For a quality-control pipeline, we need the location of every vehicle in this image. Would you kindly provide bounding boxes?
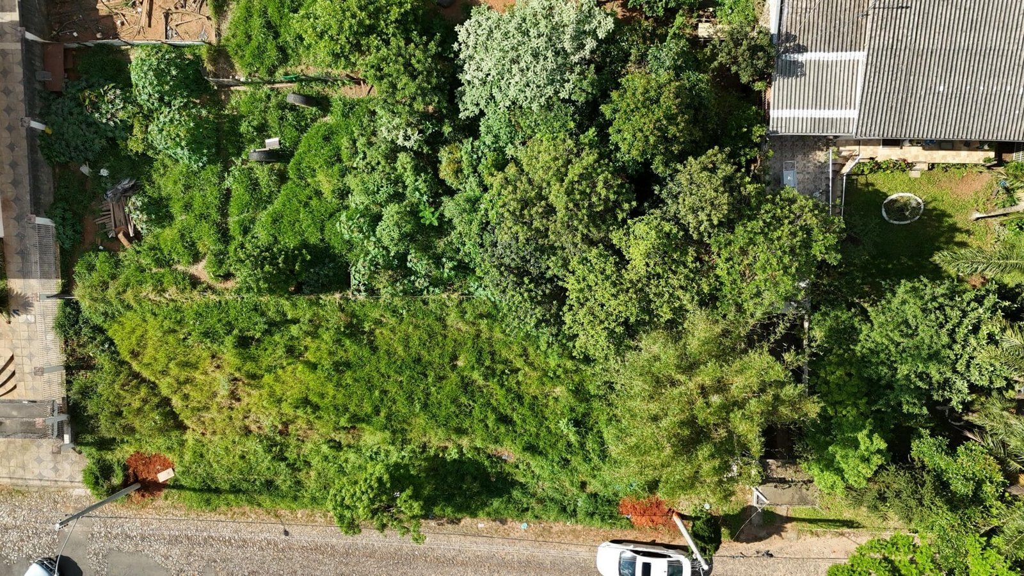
[595,543,695,576]
[14,557,61,576]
